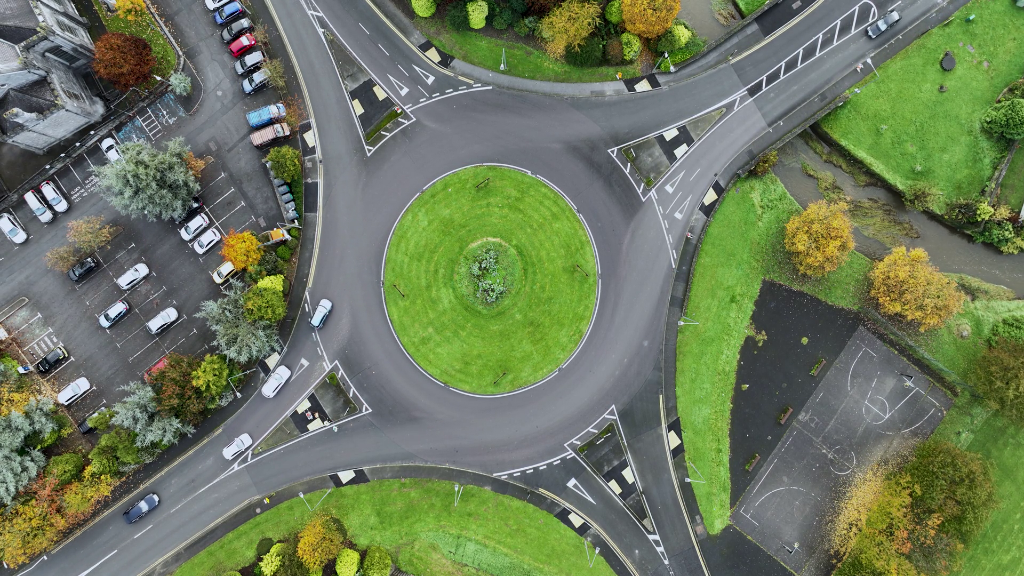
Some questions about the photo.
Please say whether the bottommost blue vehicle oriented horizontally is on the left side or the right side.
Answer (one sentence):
The bottommost blue vehicle oriented horizontally sits on the left side.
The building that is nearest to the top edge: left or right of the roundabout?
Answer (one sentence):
Looking at the picture, you'll find the building that is nearest to the top edge to the left of the roundabout.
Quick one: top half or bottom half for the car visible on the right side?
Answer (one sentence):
The car visible on the right side sits in the top half of the picture.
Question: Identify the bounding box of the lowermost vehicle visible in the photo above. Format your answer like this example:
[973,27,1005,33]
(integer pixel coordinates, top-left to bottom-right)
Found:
[121,493,161,525]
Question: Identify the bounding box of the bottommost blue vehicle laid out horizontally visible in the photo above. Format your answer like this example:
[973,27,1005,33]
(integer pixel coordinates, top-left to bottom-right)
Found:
[245,103,289,128]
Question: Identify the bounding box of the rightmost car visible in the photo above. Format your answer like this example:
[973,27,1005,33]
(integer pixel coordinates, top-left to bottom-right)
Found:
[864,9,904,40]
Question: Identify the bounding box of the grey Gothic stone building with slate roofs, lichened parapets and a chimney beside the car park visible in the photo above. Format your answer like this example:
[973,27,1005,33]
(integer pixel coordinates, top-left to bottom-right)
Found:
[0,0,107,153]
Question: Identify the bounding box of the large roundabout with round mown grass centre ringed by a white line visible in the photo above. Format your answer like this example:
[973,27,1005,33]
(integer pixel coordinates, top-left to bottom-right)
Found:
[305,88,768,474]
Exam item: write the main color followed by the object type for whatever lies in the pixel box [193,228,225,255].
white car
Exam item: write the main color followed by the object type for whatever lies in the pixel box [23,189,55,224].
white car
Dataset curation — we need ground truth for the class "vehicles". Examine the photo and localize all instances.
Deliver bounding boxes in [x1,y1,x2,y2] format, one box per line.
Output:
[243,69,273,94]
[233,50,269,75]
[193,228,225,255]
[102,135,125,161]
[206,0,238,12]
[121,493,161,525]
[220,433,254,461]
[116,264,152,290]
[0,211,30,245]
[37,346,71,373]
[145,307,181,334]
[39,179,71,215]
[260,365,292,399]
[245,103,289,128]
[73,409,107,436]
[67,256,101,282]
[181,214,212,240]
[864,9,904,40]
[54,377,93,406]
[172,196,207,224]
[310,297,333,330]
[23,189,55,224]
[249,125,293,150]
[211,261,240,284]
[228,34,259,56]
[99,300,132,327]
